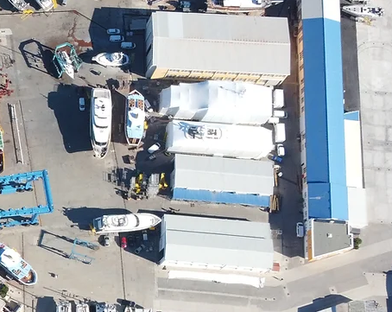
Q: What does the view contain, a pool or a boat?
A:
boat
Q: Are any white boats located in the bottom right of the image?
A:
No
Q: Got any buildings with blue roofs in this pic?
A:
Yes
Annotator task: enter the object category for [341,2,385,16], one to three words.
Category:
boat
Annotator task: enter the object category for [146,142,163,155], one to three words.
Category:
vehicle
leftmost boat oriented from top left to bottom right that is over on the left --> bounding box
[0,241,38,286]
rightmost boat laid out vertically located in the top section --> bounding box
[128,87,145,148]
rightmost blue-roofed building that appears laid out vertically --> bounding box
[293,0,348,227]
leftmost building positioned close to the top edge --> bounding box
[149,12,291,86]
